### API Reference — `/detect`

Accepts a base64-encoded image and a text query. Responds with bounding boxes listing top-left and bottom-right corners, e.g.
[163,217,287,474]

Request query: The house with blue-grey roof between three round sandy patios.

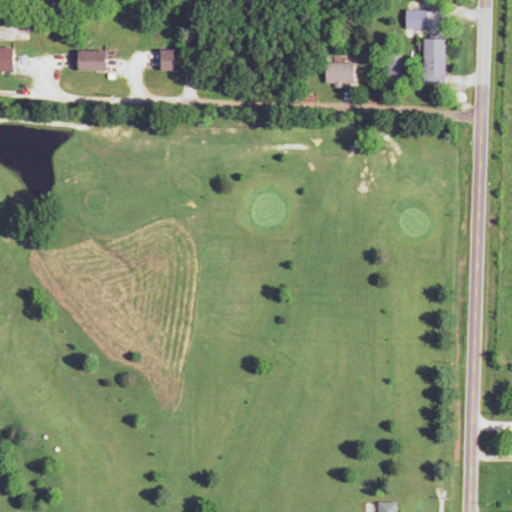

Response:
[406,10,438,30]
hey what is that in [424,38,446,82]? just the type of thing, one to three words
house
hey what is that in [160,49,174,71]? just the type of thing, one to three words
house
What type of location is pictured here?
golf course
